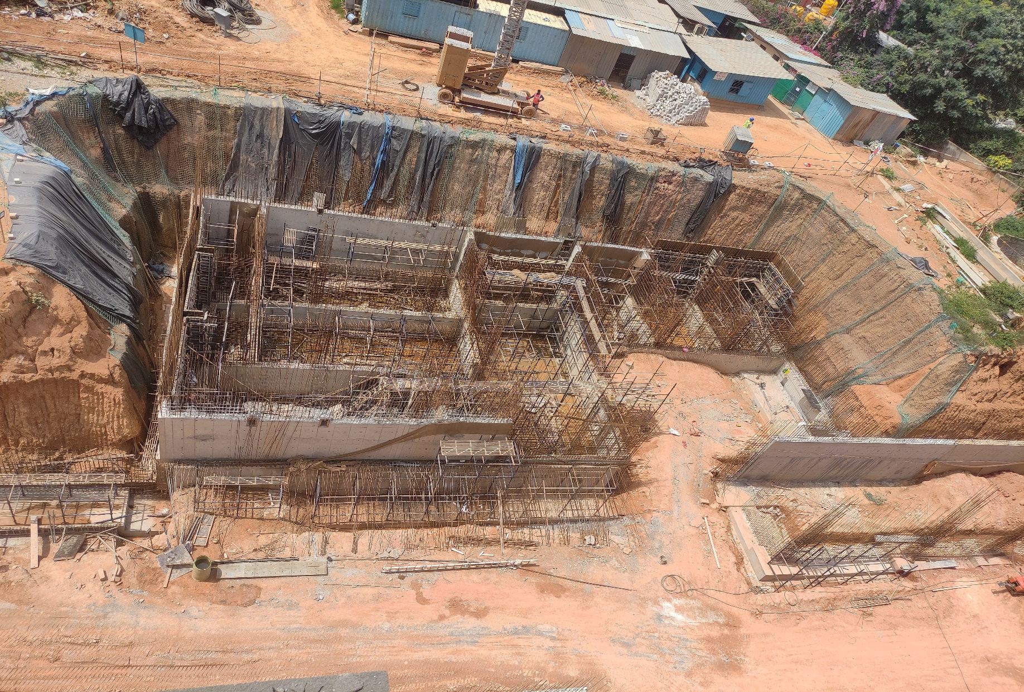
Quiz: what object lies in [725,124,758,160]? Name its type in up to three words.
building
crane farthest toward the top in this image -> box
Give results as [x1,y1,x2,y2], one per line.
[439,0,538,122]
